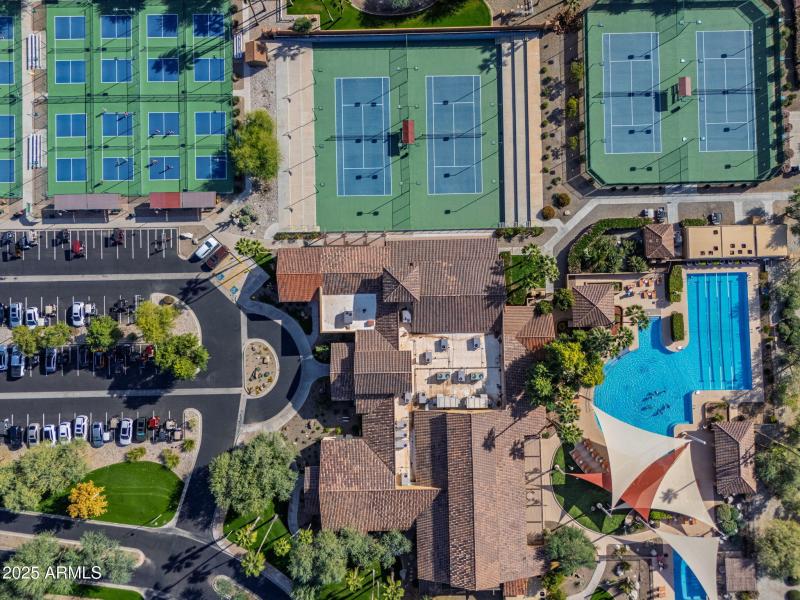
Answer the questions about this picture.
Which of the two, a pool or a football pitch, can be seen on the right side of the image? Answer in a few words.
pool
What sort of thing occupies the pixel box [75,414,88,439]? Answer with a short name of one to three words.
vehicle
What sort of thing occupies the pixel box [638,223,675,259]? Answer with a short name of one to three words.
building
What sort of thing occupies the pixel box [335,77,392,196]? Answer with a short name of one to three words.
tennis court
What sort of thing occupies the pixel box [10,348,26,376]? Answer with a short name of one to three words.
vehicle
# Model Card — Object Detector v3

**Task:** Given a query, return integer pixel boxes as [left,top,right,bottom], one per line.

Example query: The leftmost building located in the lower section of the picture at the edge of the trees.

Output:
[277,238,555,598]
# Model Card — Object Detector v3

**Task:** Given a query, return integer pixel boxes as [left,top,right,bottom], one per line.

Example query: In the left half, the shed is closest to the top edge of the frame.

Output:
[245,41,269,68]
